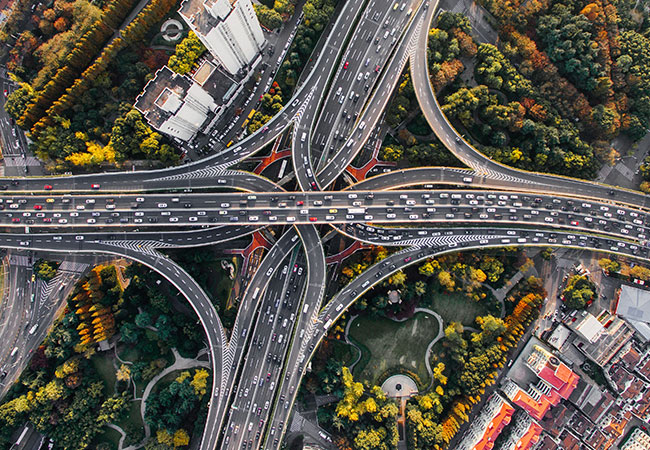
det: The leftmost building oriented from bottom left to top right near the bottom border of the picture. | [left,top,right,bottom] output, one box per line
[454,390,514,450]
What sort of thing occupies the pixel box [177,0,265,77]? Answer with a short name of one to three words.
building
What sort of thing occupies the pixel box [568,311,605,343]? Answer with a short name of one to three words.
building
